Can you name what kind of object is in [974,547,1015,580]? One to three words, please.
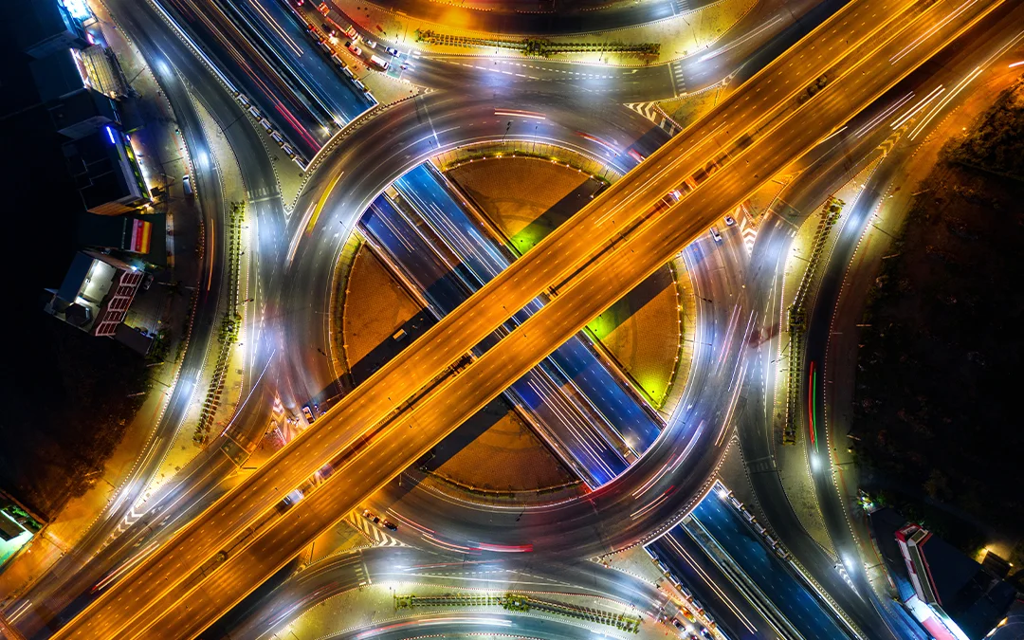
shed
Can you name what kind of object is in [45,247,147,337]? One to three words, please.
house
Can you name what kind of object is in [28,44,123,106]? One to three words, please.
building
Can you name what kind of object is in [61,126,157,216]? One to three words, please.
building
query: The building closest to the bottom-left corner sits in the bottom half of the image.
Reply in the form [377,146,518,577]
[0,502,35,547]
